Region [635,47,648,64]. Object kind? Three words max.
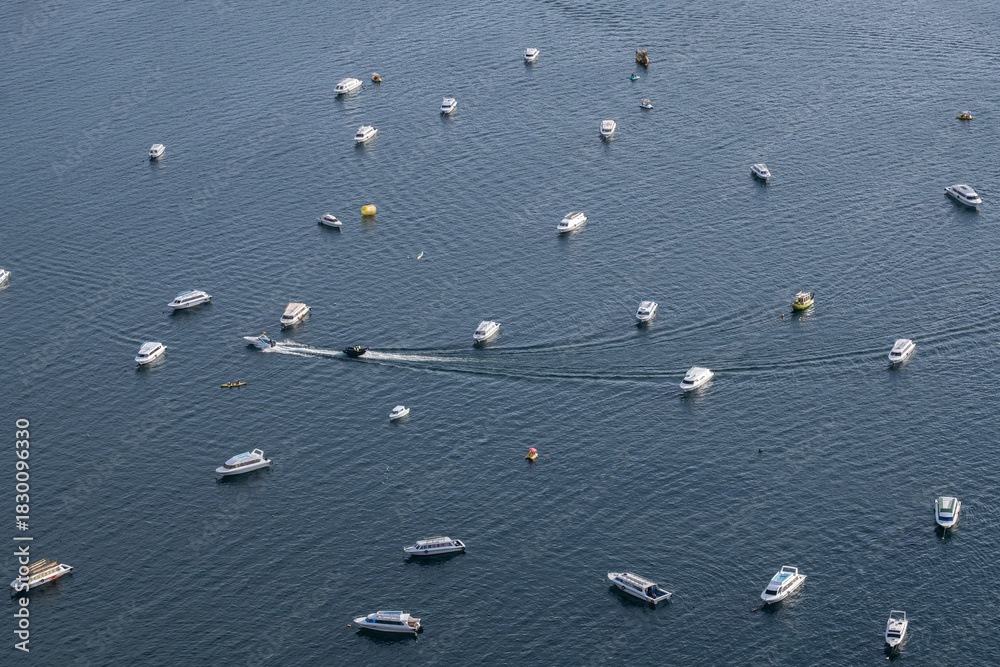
boat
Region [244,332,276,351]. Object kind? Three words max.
boat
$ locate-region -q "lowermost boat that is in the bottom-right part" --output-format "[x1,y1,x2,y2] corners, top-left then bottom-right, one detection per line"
[885,611,907,662]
